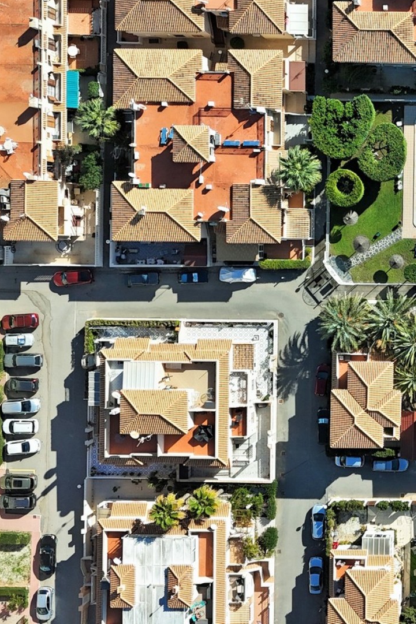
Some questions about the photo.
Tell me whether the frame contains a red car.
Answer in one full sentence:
Yes, this view includes a red car.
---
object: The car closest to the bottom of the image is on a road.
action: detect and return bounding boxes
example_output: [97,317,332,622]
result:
[36,585,58,620]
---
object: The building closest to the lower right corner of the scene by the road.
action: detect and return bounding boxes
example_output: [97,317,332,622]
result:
[324,519,403,624]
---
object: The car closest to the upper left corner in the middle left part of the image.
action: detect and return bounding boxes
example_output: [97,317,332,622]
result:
[55,268,95,287]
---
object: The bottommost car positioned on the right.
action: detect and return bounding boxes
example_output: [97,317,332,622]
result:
[307,555,324,593]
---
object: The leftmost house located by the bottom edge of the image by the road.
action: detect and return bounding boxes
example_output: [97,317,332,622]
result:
[96,501,269,624]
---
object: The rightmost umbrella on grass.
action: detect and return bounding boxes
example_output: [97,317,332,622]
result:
[389,254,404,269]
